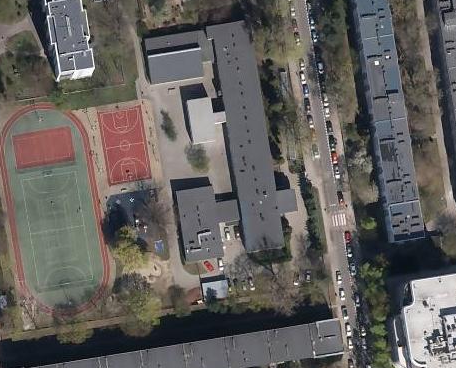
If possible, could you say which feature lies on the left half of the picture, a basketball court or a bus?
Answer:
basketball court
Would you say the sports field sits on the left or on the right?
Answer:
left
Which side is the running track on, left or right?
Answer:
left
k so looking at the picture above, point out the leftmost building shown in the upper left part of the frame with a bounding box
[41,0,94,82]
